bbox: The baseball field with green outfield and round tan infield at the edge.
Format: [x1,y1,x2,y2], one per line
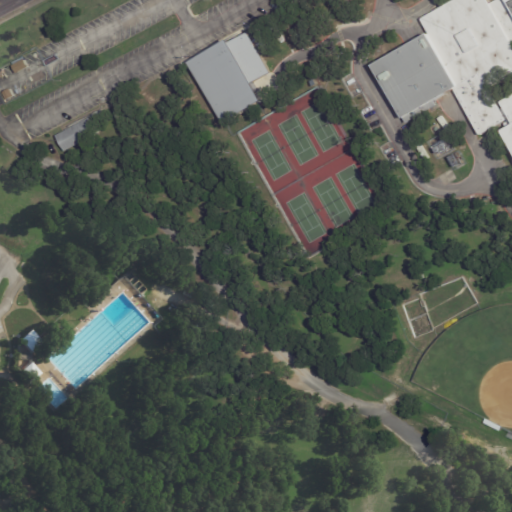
[411,304,512,432]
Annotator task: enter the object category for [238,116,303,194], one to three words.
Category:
tennis court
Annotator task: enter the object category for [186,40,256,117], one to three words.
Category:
building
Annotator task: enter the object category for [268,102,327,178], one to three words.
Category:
tennis court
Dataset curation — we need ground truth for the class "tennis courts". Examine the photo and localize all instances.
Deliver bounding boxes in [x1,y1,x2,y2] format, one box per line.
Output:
[302,164,361,236]
[268,102,327,178]
[238,116,303,194]
[274,178,335,254]
[292,86,351,164]
[327,150,386,224]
